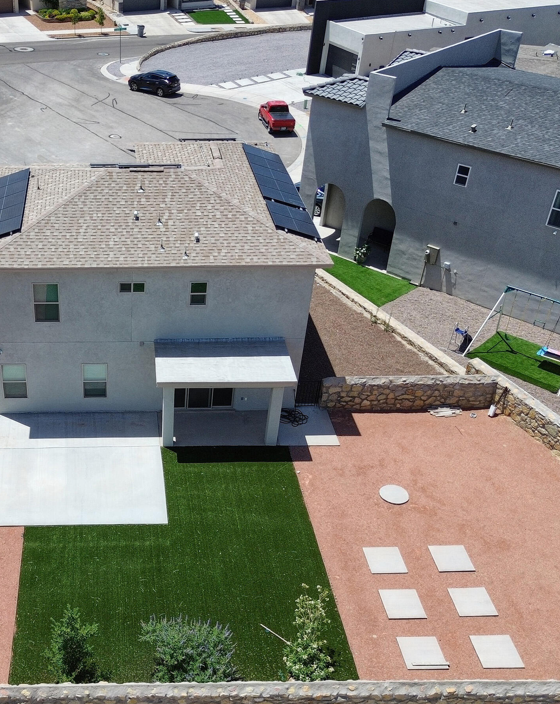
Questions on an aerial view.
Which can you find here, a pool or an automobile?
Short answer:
automobile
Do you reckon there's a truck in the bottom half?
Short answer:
No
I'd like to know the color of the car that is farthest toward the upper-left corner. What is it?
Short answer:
black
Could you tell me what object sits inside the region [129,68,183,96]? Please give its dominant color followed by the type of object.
black car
